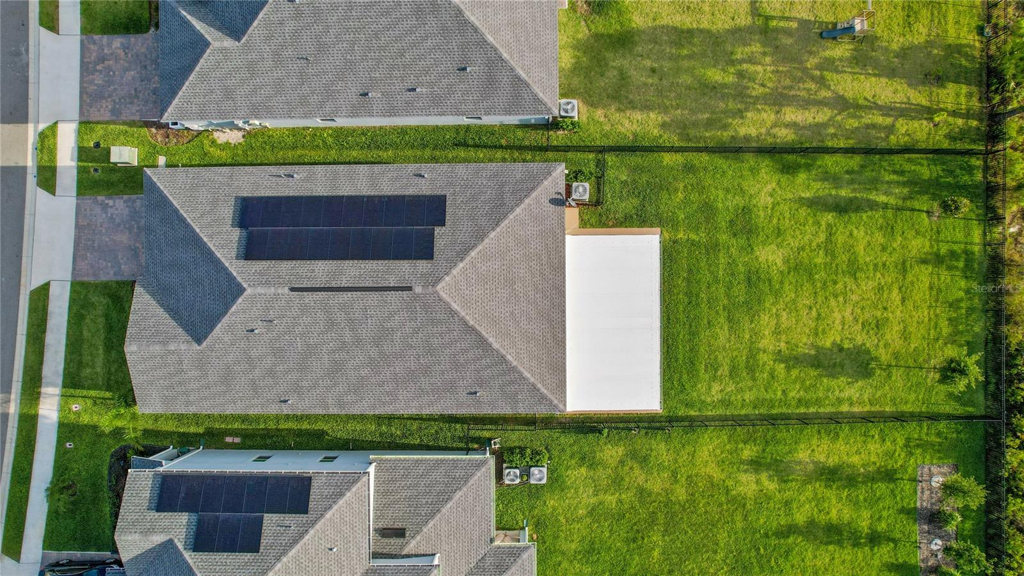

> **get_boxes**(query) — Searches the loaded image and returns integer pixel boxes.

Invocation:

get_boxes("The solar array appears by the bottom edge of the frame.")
[153,475,312,551]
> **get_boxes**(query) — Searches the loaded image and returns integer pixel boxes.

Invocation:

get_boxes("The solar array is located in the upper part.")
[235,195,446,260]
